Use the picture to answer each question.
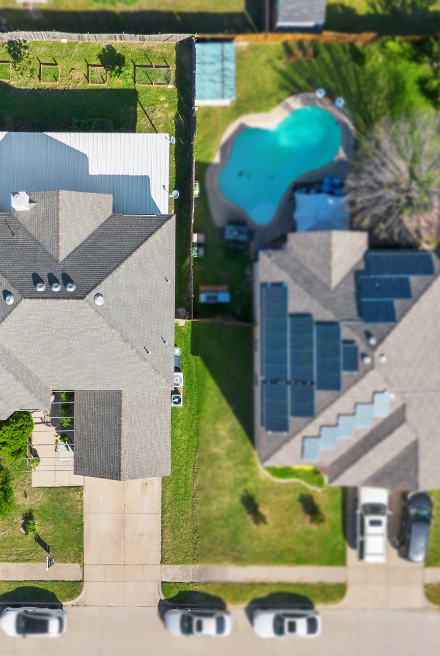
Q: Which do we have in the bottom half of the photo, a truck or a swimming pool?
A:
truck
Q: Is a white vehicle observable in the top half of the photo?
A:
No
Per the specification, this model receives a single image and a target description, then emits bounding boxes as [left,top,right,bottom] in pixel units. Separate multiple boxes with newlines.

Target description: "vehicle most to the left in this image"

[0,603,66,637]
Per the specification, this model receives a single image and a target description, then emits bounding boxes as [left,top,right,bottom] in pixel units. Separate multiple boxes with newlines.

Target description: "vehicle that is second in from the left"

[164,604,231,637]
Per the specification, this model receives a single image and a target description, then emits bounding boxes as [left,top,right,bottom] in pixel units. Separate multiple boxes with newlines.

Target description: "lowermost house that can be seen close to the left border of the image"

[0,193,175,483]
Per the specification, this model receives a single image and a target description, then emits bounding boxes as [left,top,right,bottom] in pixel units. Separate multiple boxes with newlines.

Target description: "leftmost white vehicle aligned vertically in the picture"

[358,487,392,562]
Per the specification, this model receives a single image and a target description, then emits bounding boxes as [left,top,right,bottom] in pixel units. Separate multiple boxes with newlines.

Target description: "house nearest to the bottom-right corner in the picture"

[253,232,440,498]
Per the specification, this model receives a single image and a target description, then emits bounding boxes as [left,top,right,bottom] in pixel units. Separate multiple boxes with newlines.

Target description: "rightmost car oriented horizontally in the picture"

[252,605,321,638]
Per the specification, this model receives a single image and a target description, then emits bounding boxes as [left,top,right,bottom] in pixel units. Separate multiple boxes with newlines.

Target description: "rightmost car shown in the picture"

[399,494,434,560]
